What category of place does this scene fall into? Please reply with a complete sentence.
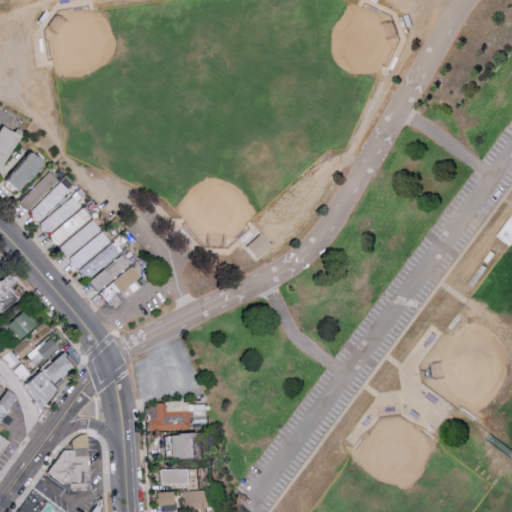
It's a sports ground.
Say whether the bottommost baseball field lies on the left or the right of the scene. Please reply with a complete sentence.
It is on the right.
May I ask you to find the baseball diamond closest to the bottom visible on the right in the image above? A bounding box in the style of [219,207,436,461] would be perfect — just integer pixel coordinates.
[312,416,492,512]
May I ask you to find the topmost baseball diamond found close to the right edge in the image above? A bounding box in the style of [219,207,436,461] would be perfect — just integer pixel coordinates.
[421,244,512,412]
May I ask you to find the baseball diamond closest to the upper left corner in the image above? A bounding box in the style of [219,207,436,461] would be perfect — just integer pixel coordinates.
[46,0,222,156]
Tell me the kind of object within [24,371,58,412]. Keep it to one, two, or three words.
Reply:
building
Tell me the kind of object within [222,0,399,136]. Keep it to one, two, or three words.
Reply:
baseball field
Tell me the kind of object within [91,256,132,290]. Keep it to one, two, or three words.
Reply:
house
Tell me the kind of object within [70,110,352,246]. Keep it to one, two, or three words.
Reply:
baseball field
